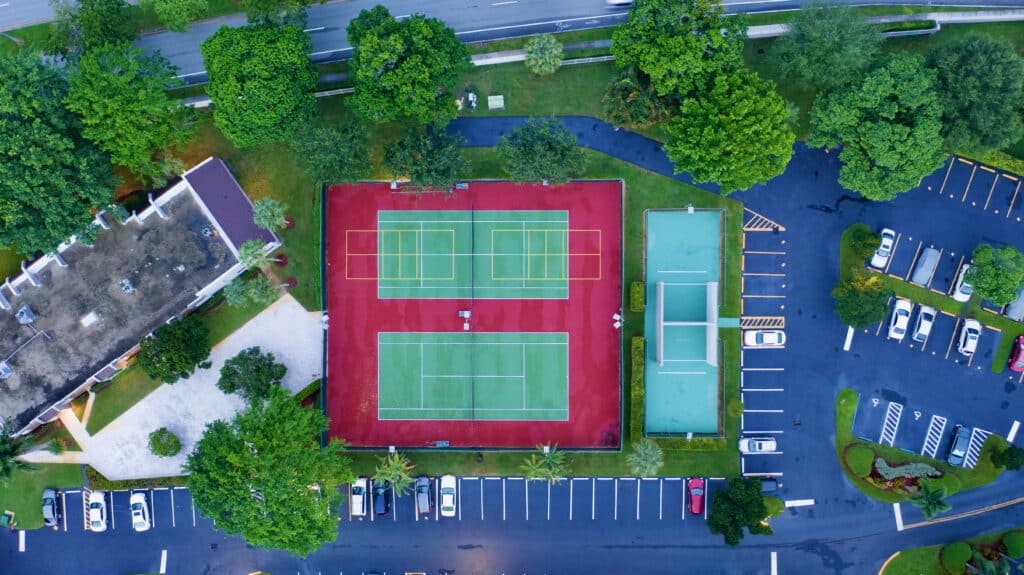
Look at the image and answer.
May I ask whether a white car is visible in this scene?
Yes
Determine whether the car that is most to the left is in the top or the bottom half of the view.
bottom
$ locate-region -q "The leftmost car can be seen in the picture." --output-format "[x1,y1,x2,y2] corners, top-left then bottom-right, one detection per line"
[39,488,61,527]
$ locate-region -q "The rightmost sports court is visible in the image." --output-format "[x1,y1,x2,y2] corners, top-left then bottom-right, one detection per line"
[646,212,720,432]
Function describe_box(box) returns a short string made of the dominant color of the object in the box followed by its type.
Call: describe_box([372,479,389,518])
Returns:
blue car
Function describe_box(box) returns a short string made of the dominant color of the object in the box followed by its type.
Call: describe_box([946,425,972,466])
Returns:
blue car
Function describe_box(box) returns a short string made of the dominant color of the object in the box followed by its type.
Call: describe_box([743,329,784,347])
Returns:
white car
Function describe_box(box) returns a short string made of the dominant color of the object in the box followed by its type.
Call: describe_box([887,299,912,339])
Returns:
white car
